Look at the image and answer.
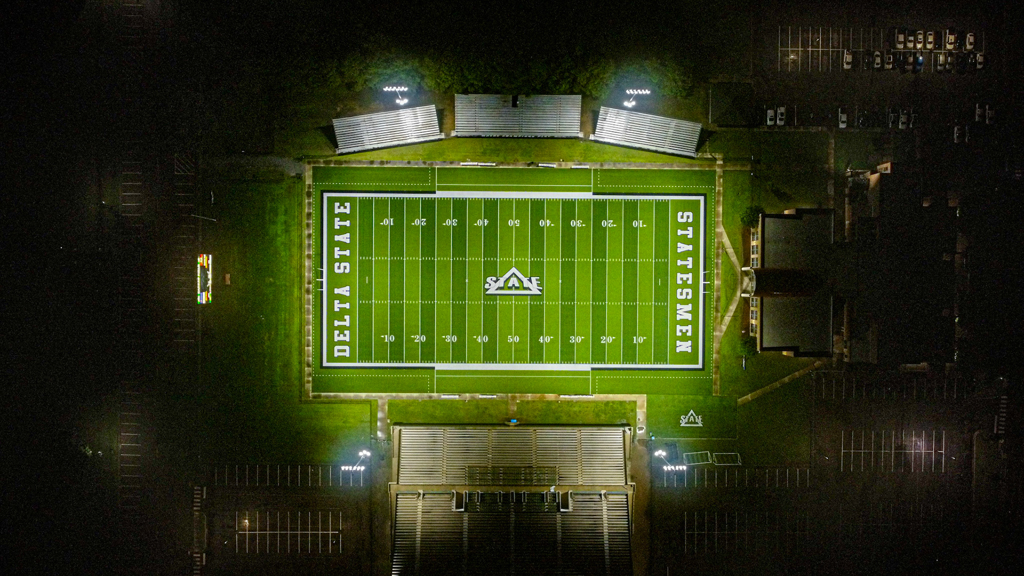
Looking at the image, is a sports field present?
Yes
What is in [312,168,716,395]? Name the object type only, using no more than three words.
sports field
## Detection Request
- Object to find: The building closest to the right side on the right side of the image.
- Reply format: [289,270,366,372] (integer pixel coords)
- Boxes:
[841,163,962,373]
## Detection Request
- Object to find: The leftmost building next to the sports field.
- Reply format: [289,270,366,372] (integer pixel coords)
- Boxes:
[739,208,833,358]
